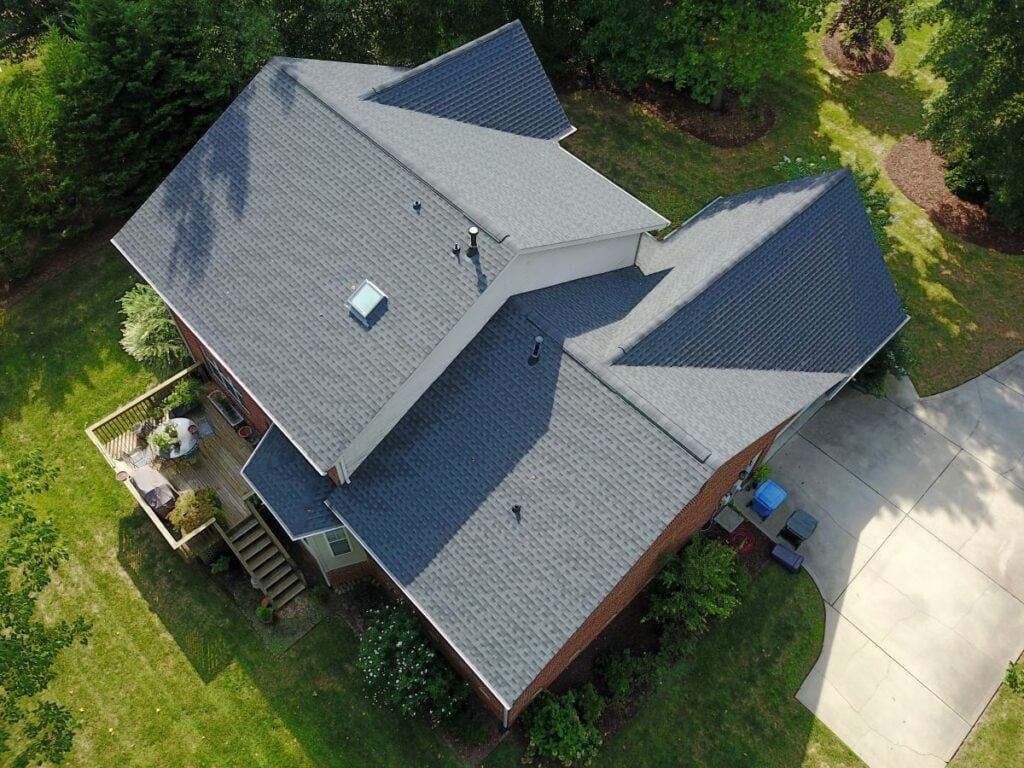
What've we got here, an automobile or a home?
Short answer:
home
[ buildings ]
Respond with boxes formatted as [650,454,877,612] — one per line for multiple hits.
[111,20,914,730]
